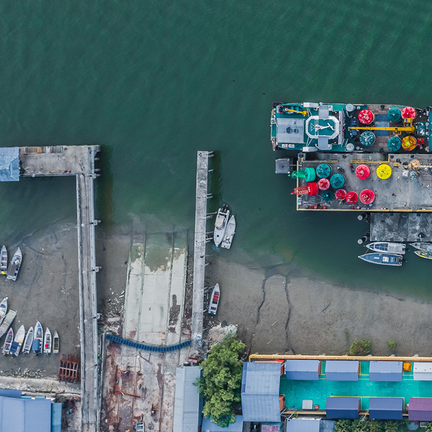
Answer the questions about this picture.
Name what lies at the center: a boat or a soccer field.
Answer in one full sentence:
The one visible at the center is a boat.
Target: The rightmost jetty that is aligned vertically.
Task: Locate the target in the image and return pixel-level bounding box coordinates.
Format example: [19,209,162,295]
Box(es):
[192,151,216,350]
